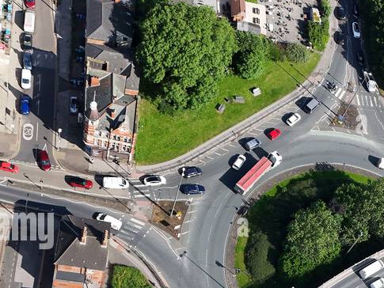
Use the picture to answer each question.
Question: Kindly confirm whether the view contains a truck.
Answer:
Yes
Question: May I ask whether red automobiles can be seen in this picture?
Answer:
Yes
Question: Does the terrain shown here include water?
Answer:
No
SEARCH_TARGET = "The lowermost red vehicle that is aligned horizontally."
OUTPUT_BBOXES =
[66,177,93,192]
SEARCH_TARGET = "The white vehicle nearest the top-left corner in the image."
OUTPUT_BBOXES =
[23,8,36,36]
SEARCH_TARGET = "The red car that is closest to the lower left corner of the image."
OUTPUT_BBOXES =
[0,164,21,177]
